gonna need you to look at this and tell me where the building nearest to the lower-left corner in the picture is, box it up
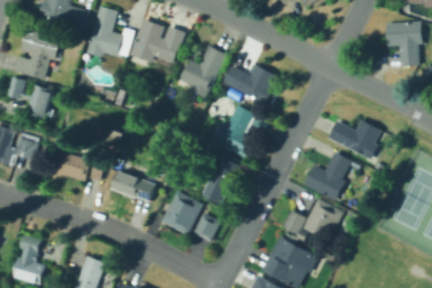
[12,236,46,286]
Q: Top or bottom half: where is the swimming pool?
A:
top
